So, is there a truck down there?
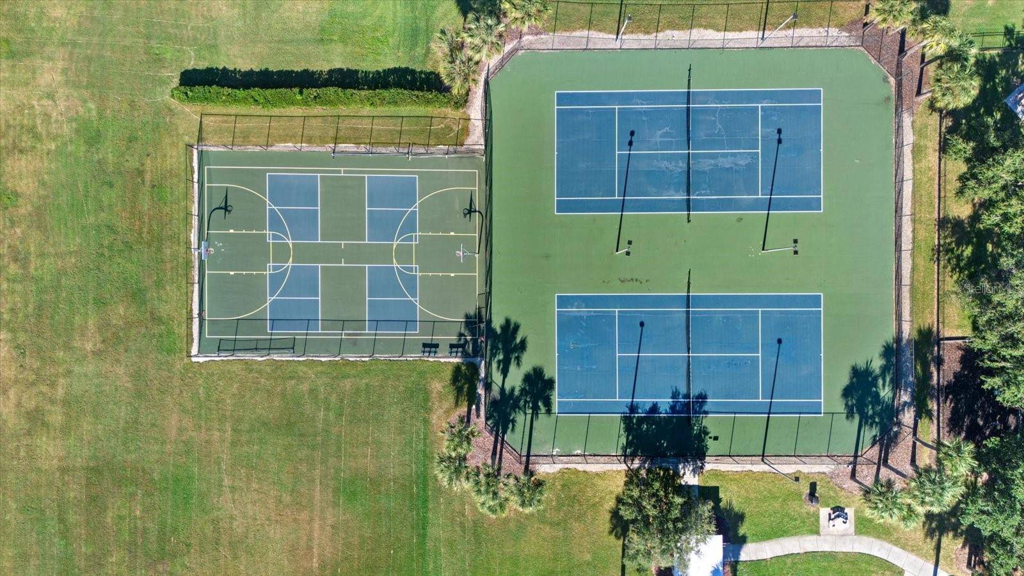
No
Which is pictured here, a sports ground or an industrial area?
sports ground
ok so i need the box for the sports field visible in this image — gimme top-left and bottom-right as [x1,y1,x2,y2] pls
[0,0,429,576]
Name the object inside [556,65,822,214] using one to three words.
tennis court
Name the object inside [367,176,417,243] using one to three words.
sports court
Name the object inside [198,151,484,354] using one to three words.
basketball court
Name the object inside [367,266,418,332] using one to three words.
sports court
